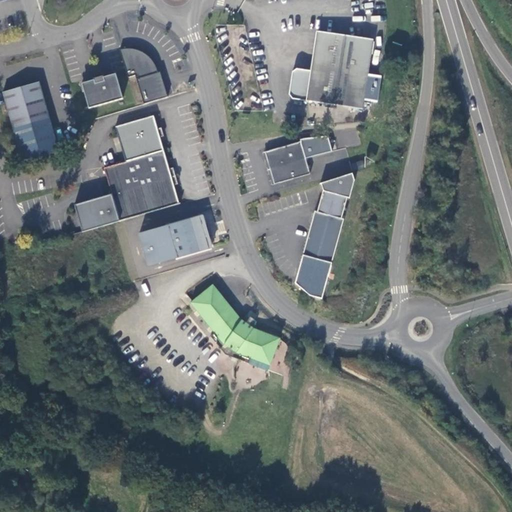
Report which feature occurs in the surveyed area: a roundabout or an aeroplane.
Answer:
roundabout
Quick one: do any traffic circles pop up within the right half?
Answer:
Yes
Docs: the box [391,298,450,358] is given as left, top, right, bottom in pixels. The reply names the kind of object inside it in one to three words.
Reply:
roundabout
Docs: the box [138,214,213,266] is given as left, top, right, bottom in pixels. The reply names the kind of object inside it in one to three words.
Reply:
building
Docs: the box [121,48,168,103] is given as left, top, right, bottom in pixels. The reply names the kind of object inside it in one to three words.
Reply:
building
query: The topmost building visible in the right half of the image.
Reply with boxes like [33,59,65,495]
[288,31,382,108]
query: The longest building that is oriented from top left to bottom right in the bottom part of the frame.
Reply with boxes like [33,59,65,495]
[191,284,281,372]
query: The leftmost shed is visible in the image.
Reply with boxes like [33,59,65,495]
[2,82,57,160]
